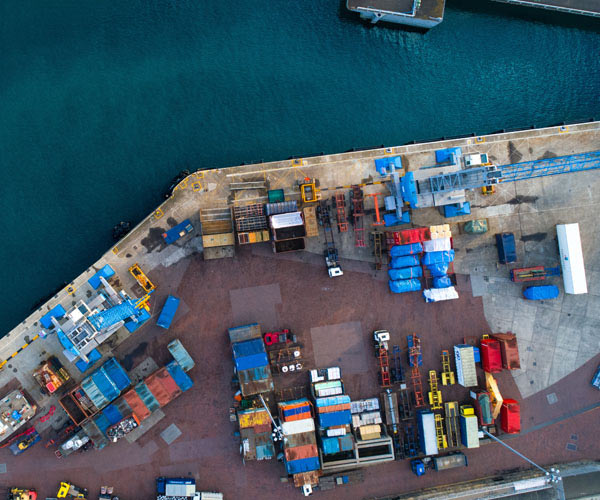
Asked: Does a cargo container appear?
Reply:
Yes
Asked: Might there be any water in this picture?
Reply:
Yes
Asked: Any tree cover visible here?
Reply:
No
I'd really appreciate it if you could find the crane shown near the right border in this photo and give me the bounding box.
[375,147,600,228]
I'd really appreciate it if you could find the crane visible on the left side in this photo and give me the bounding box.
[40,265,164,373]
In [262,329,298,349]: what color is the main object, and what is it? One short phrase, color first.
red vehicle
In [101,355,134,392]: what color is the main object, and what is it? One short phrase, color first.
blue shipping container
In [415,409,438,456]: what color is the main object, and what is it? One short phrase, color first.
white trailer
